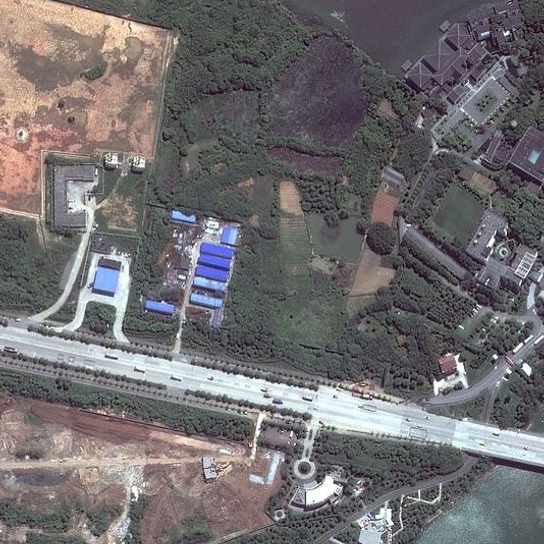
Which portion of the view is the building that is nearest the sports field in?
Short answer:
right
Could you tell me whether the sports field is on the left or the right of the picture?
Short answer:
right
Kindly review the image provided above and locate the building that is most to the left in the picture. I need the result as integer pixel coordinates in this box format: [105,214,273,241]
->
[54,165,96,230]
